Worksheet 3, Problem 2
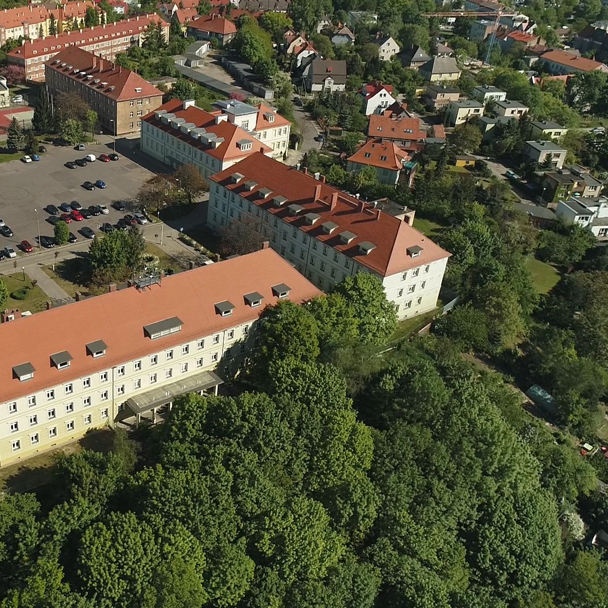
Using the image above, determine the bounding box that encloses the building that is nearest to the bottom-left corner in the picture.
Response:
[0,242,326,464]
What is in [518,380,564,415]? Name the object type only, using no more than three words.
greenhouse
